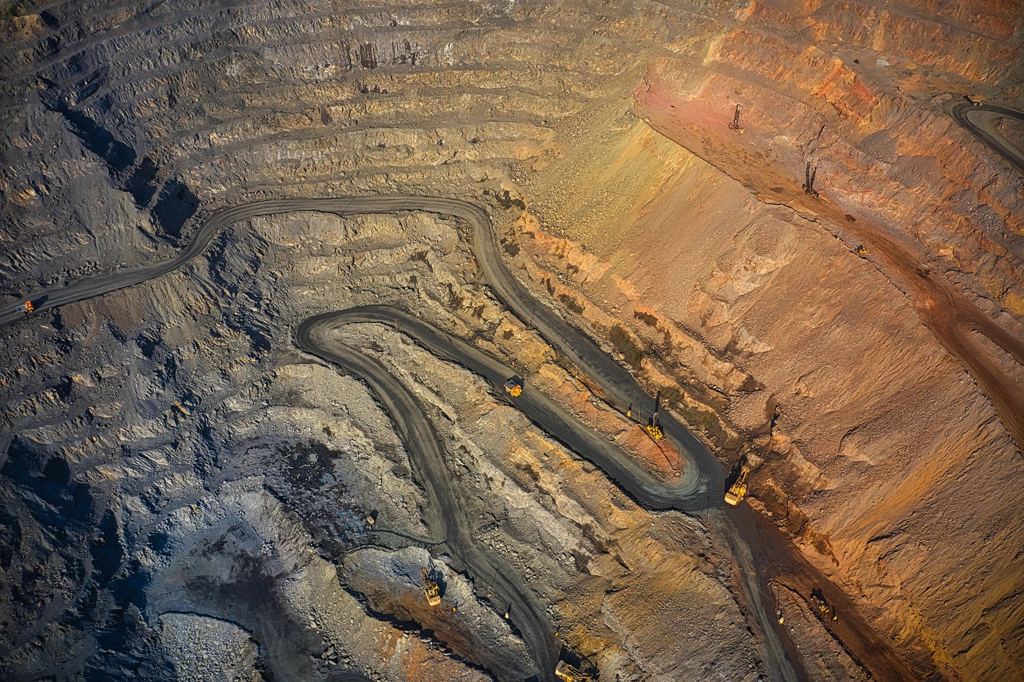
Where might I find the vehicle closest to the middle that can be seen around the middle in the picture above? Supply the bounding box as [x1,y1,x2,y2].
[503,377,521,395]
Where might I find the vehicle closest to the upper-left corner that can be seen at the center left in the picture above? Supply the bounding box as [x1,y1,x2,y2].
[13,299,34,313]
